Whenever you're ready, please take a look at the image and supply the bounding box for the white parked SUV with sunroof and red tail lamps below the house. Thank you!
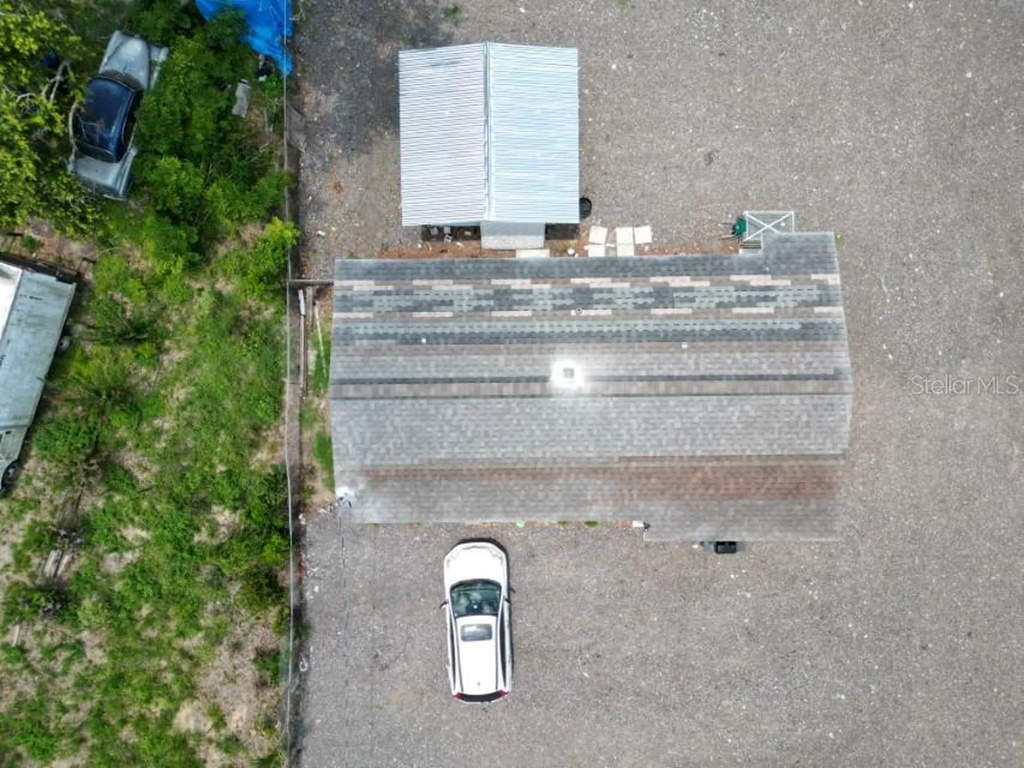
[440,540,514,706]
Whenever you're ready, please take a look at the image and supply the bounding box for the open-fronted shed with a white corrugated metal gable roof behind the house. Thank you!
[399,38,580,229]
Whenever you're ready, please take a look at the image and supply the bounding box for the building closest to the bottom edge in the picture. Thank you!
[328,229,852,542]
